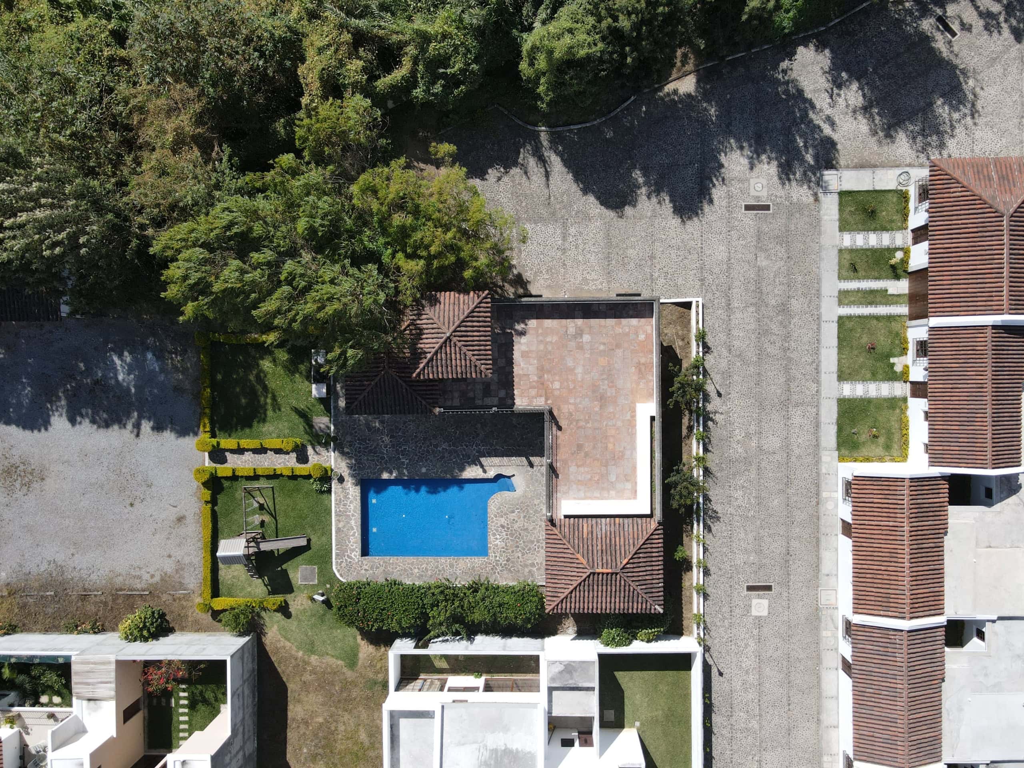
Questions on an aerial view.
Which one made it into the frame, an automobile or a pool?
pool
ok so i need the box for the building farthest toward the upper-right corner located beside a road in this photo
[903,153,1024,332]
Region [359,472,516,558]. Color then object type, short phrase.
blue swimming pool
